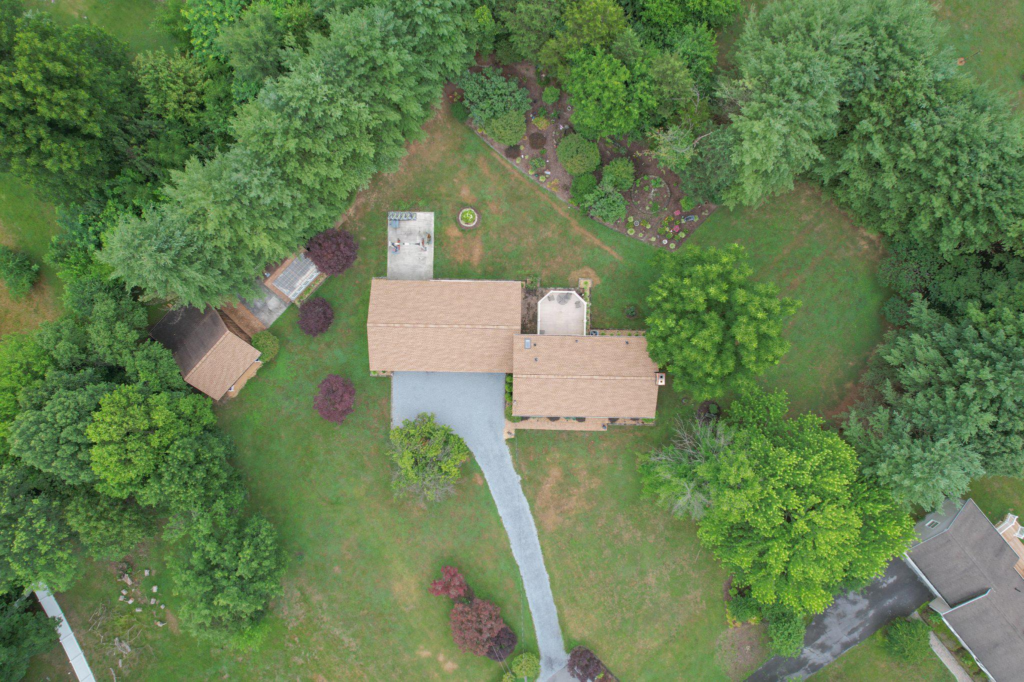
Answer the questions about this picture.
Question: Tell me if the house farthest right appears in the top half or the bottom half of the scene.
bottom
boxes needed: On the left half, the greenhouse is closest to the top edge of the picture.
[272,253,325,297]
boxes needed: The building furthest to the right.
[901,498,1024,682]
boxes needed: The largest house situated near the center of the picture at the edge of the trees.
[367,278,667,419]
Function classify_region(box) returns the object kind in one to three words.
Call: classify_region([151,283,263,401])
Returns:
building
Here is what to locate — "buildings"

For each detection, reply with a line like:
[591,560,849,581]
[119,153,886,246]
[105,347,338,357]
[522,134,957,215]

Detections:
[151,283,263,401]
[272,253,325,297]
[901,498,1024,682]
[367,278,667,419]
